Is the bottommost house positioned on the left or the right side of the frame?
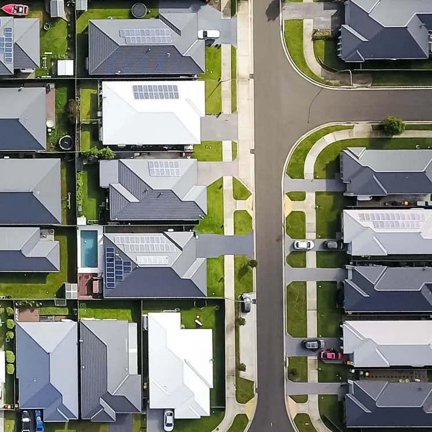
right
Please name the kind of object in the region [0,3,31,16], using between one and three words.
boat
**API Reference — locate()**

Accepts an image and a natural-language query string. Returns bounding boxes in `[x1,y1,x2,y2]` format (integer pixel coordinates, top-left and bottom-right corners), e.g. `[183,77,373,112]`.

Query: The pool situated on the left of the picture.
[79,230,99,269]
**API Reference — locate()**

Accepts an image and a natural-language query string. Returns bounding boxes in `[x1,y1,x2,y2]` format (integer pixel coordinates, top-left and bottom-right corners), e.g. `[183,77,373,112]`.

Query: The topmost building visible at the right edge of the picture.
[330,0,432,62]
